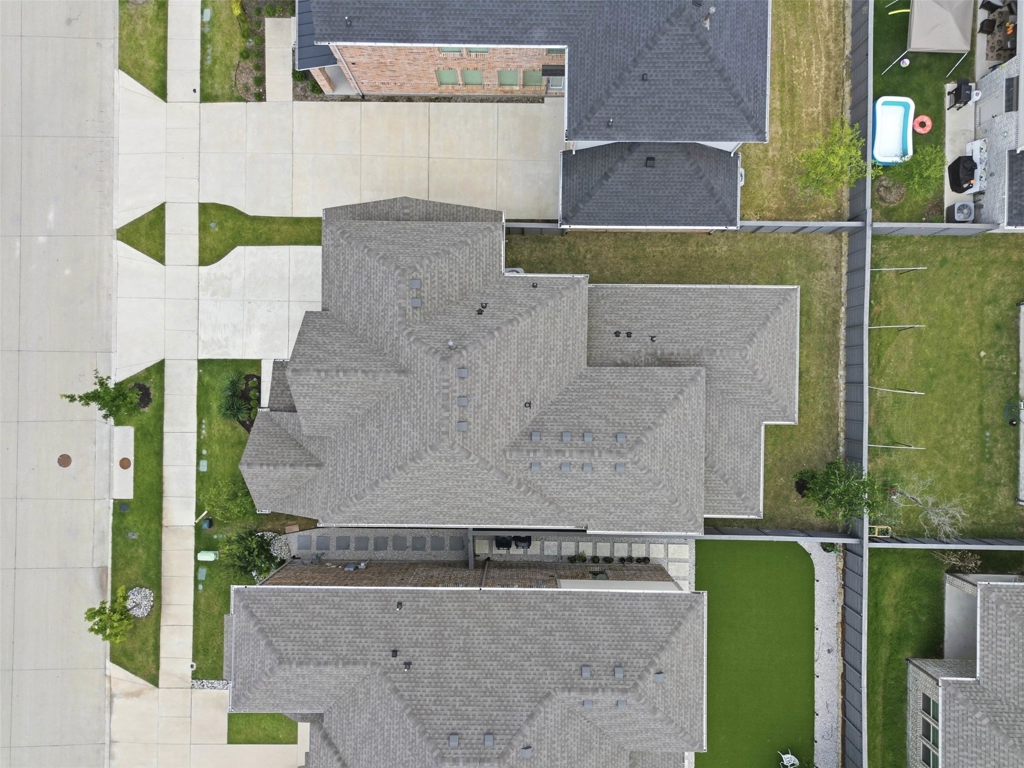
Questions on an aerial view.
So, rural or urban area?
urban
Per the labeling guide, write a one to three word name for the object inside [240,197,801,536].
house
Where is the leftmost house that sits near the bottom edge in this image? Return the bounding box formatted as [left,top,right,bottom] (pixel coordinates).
[223,554,709,768]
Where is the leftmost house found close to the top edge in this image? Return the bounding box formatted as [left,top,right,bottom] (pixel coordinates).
[294,0,772,236]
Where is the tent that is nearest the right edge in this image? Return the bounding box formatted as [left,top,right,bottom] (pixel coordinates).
[882,0,972,75]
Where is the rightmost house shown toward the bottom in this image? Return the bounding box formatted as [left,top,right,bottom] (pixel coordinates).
[906,574,1024,768]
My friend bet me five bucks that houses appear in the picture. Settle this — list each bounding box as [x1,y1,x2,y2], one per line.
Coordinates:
[294,0,772,236]
[240,197,801,536]
[223,554,709,768]
[974,0,1024,232]
[906,574,1024,768]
